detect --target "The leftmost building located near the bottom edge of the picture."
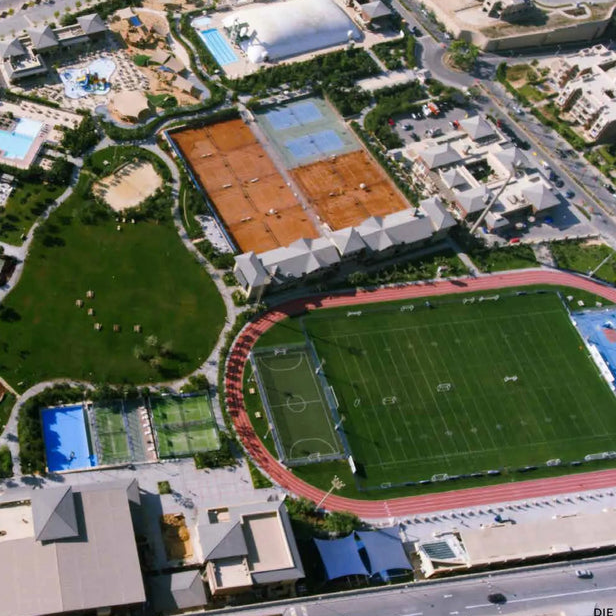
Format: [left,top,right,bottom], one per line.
[0,480,146,616]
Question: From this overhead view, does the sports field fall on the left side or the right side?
right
